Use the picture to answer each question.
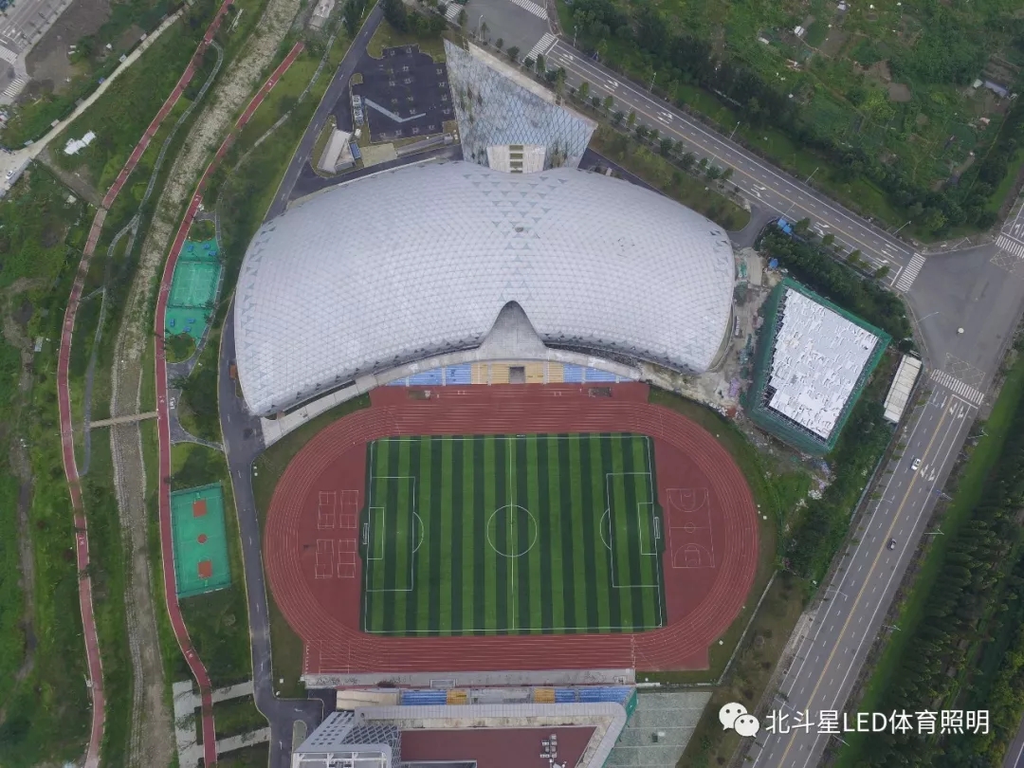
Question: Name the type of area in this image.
sports ground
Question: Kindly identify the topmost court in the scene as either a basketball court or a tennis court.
tennis court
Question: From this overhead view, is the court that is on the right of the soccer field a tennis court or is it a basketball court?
basketball court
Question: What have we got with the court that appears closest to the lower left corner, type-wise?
basketball court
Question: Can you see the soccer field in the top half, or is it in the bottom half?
bottom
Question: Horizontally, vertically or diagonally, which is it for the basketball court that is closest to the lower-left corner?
vertically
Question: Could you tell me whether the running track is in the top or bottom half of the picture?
bottom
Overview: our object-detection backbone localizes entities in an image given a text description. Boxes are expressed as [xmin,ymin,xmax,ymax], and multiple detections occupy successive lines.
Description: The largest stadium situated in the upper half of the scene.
[234,159,737,417]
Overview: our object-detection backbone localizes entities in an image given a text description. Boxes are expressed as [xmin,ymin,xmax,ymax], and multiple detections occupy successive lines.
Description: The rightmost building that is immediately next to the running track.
[743,277,891,454]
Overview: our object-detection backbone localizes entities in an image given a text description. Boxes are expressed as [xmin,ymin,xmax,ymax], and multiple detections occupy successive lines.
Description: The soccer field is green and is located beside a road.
[356,433,668,637]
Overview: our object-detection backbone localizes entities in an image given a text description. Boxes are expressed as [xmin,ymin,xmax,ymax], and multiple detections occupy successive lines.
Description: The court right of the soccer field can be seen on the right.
[667,487,715,569]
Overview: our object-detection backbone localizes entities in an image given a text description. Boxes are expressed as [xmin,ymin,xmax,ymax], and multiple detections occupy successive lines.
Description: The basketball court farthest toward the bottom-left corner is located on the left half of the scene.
[172,482,230,598]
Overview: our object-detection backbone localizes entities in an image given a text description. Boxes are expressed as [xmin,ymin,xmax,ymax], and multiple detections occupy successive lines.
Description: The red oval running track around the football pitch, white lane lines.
[264,383,759,674]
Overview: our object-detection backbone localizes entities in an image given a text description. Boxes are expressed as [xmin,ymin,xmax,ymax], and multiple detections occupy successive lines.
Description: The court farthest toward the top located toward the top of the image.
[166,237,223,343]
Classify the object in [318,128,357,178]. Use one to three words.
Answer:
building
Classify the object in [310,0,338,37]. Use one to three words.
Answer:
building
